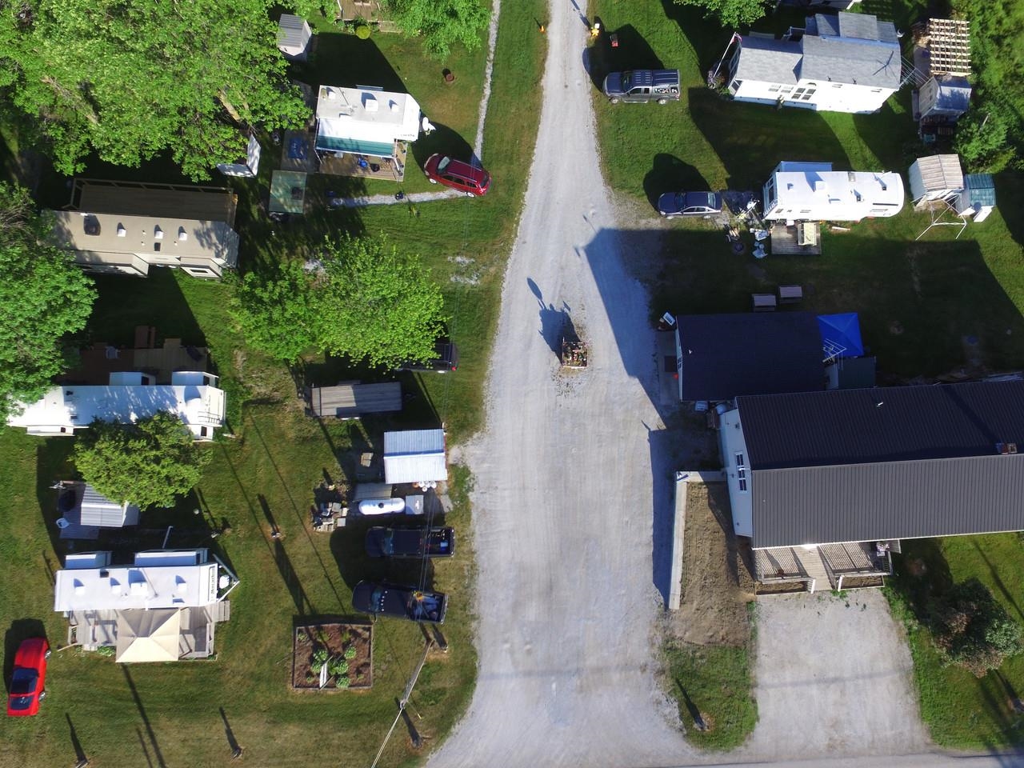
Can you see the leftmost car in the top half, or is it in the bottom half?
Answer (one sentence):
The leftmost car is in the bottom half of the image.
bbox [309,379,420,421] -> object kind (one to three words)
trailer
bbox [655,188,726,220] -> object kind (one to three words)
car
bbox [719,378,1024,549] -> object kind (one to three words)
house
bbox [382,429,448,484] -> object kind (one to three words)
shed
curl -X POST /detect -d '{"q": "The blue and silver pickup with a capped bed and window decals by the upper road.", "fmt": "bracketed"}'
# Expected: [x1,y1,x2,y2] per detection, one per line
[602,69,683,106]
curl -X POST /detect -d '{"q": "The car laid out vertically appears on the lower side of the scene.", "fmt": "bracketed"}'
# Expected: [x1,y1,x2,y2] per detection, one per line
[4,634,57,722]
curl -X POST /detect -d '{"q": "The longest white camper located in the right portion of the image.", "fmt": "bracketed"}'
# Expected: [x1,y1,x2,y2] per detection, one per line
[762,161,903,227]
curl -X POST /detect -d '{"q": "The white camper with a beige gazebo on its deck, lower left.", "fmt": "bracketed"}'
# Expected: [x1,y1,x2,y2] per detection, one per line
[54,545,239,611]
